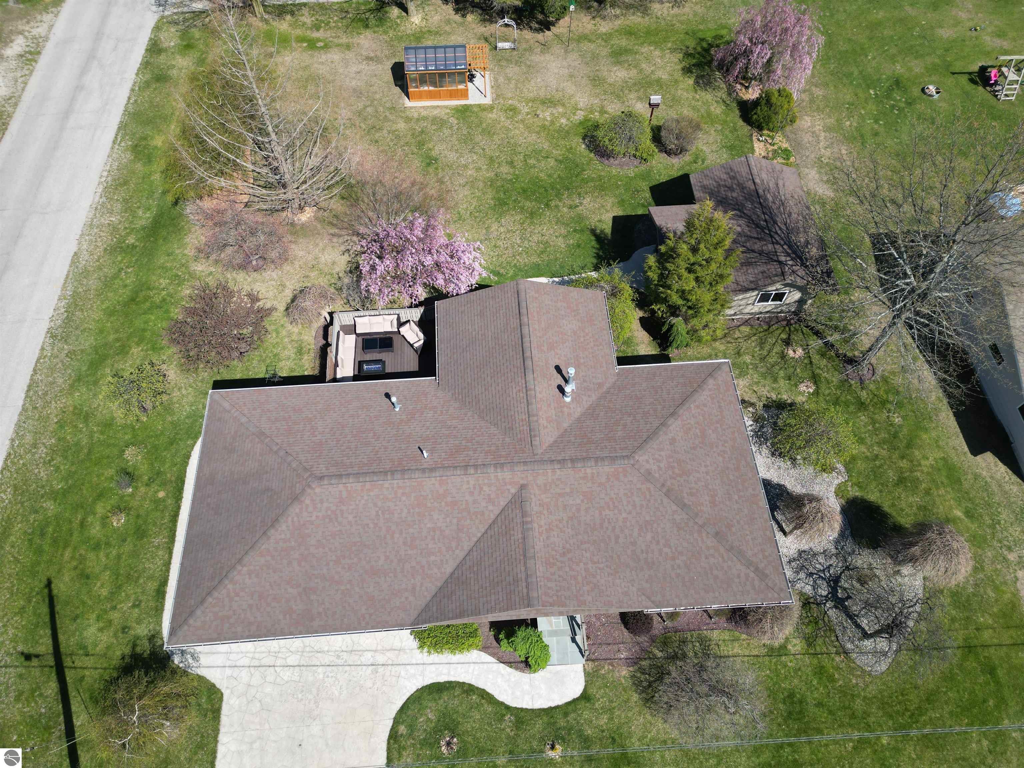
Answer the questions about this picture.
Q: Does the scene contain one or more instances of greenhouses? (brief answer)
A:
Yes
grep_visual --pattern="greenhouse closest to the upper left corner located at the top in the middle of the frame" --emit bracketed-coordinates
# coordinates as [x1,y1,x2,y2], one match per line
[403,42,490,101]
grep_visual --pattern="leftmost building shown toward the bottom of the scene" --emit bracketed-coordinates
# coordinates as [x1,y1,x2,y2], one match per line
[160,276,799,651]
